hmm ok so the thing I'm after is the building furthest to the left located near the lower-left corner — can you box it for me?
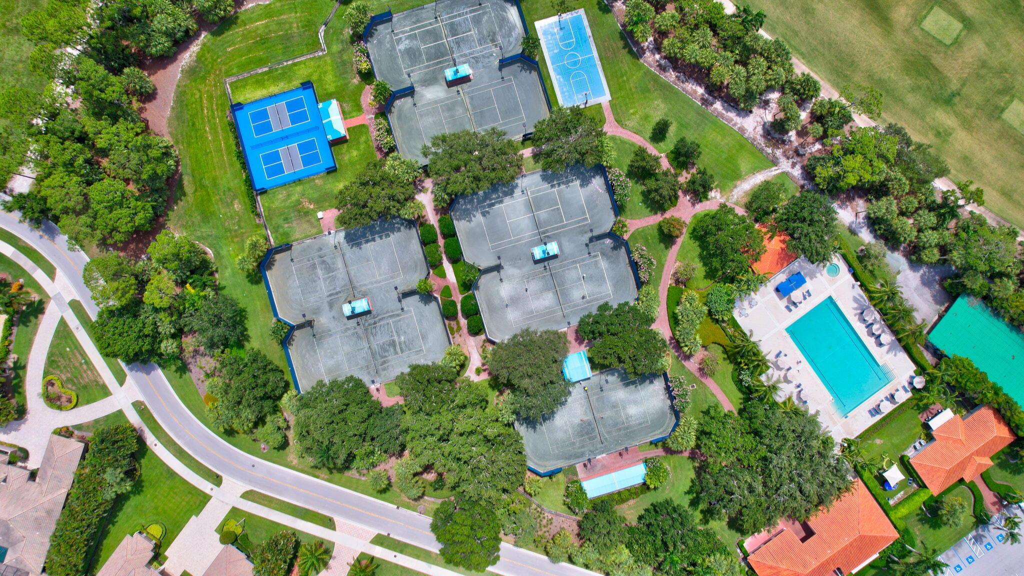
[0,434,85,576]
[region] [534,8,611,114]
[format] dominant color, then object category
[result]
blue basketball court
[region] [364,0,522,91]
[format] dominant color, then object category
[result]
gray tennis court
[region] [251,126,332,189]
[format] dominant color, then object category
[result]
blue sports court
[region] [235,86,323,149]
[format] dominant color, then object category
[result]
blue sports court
